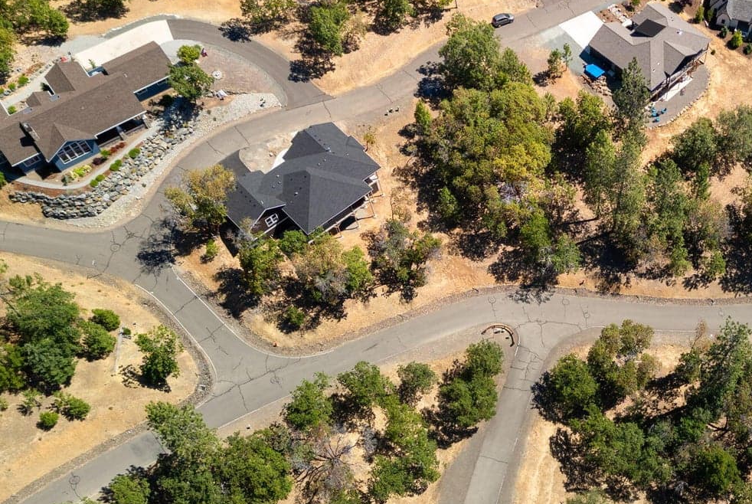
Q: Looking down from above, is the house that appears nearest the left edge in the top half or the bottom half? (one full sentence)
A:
The house that appears nearest the left edge is in the top half of the image.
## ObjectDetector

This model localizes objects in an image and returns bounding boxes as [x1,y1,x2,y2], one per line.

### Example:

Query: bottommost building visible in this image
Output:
[217,123,383,245]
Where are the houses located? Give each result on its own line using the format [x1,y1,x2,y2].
[217,123,383,245]
[709,0,752,37]
[0,44,171,173]
[589,3,712,105]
